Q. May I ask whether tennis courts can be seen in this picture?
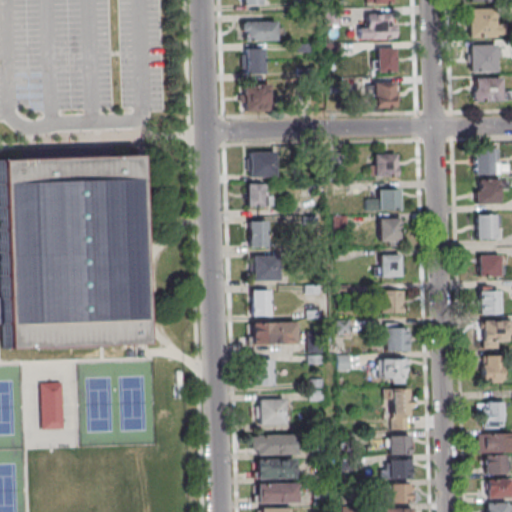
Yes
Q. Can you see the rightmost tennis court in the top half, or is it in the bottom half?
bottom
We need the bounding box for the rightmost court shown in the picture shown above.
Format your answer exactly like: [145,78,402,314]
[116,361,154,444]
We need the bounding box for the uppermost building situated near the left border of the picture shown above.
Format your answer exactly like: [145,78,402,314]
[0,154,154,350]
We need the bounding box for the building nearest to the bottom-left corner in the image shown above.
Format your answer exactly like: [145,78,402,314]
[39,382,64,430]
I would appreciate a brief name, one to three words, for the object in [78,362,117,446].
tennis court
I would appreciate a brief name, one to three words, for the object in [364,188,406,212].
house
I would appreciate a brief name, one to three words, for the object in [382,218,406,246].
house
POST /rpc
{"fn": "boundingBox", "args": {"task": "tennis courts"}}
[0,366,22,448]
[78,362,117,446]
[116,361,154,444]
[0,449,24,512]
